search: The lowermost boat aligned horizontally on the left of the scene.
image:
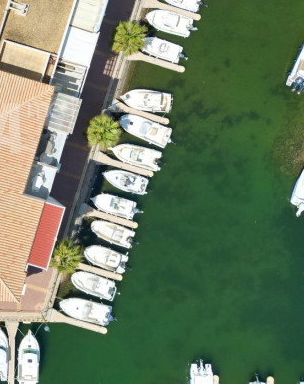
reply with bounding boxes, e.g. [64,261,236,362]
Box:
[60,297,116,326]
